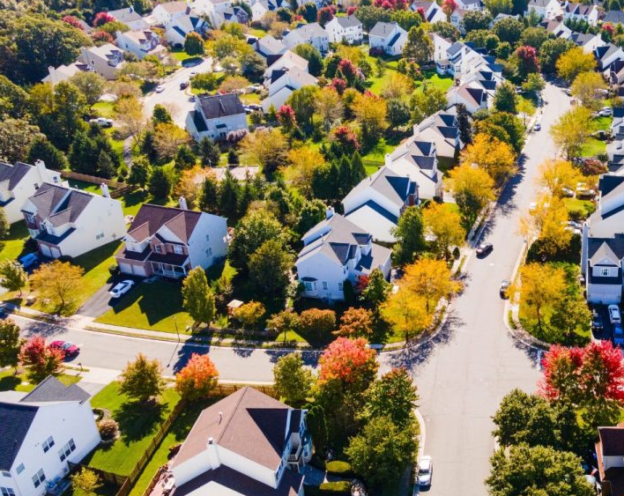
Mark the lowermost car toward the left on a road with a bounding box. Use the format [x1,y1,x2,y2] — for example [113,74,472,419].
[53,341,81,357]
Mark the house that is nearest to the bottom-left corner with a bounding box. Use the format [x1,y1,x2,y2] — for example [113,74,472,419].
[0,368,89,496]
